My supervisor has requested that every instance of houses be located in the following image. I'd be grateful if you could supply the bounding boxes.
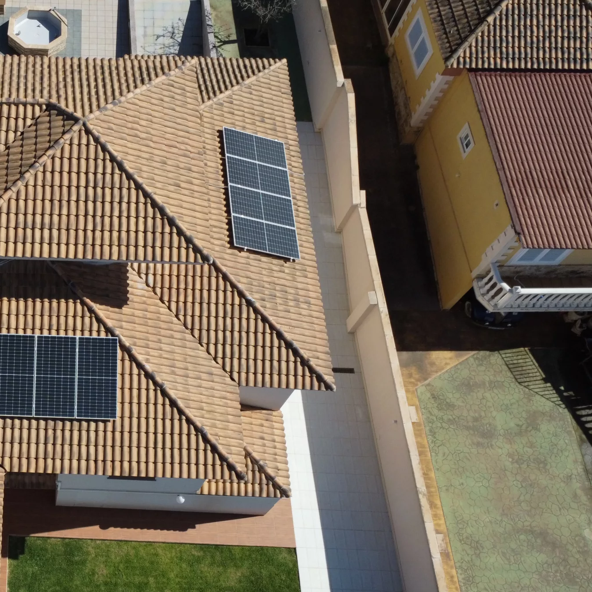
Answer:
[0,49,340,592]
[370,0,592,318]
